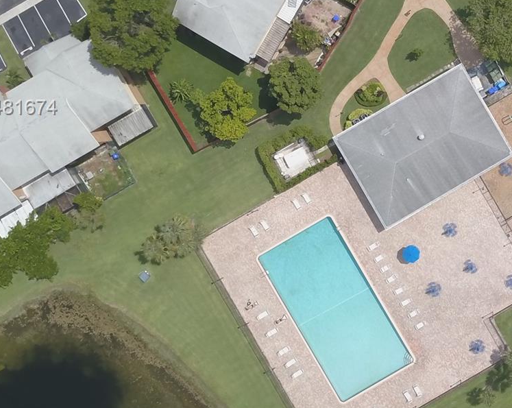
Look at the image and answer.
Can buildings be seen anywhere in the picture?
Yes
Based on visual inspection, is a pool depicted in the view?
Yes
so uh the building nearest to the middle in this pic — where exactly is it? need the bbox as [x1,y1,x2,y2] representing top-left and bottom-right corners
[286,147,314,171]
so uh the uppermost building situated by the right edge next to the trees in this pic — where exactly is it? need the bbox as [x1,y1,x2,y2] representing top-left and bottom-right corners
[334,67,512,230]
